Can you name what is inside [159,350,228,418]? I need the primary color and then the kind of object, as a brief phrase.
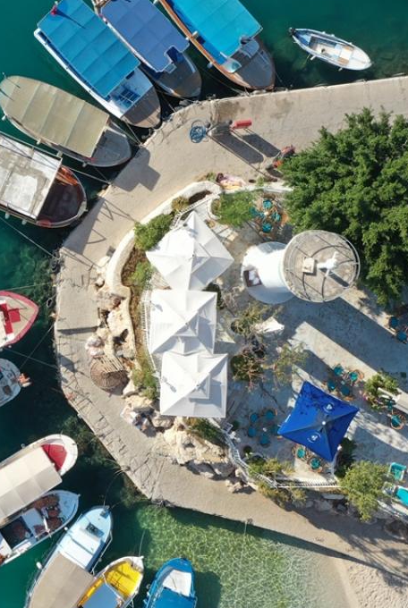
white umbrella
